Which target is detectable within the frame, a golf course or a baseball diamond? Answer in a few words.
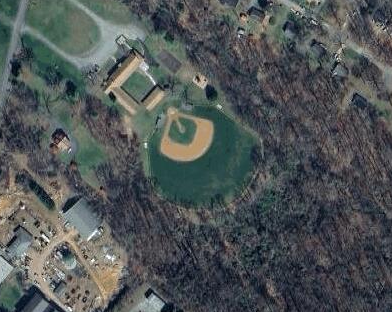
baseball diamond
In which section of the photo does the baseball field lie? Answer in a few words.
center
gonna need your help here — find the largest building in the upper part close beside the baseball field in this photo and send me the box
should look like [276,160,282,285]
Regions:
[103,52,165,115]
